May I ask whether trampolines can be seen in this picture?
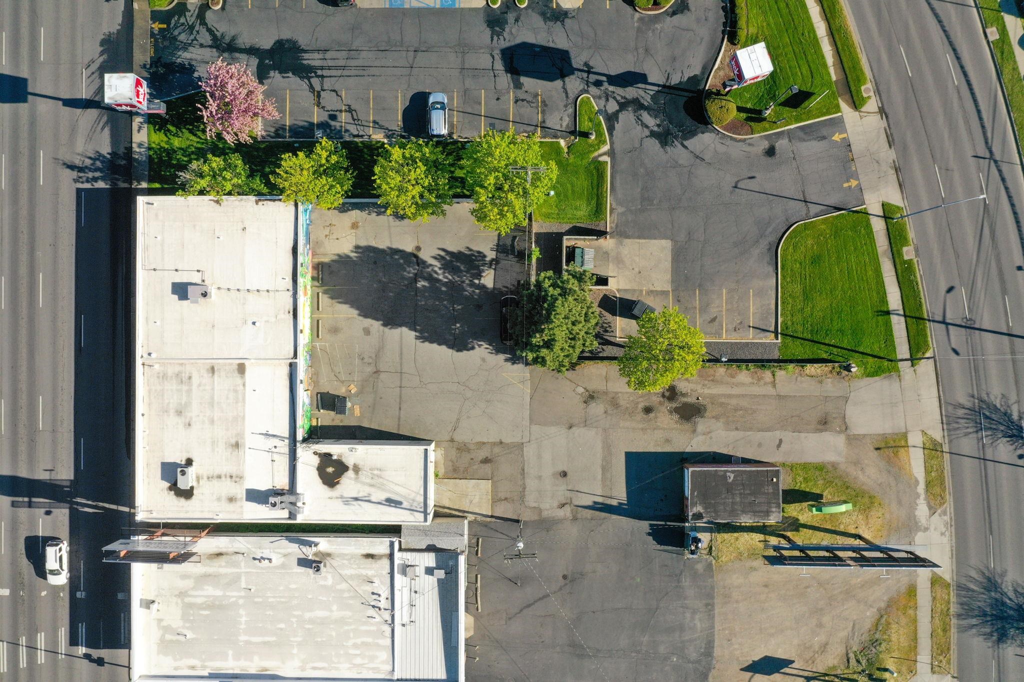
No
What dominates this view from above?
paved ground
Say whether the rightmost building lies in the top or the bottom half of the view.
bottom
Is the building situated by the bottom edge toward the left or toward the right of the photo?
left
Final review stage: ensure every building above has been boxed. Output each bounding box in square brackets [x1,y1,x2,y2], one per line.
[684,456,781,522]
[130,518,469,682]
[136,196,311,522]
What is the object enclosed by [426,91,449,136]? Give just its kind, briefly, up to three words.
car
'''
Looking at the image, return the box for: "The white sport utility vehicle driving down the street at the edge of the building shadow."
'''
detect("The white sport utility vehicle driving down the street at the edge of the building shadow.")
[43,538,70,584]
